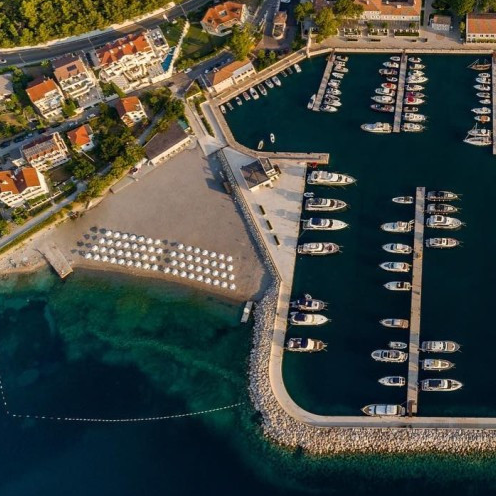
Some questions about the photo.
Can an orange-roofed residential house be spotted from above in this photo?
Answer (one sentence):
Yes, you can see an orange-roofed residential house in this photo.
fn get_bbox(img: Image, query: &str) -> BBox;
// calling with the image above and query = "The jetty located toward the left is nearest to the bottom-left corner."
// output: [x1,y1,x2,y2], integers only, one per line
[38,248,74,278]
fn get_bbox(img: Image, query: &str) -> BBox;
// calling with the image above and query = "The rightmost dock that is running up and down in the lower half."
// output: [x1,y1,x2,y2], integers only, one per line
[407,187,425,420]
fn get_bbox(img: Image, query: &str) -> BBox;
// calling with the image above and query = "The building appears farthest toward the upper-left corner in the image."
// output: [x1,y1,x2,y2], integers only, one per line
[0,72,23,103]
